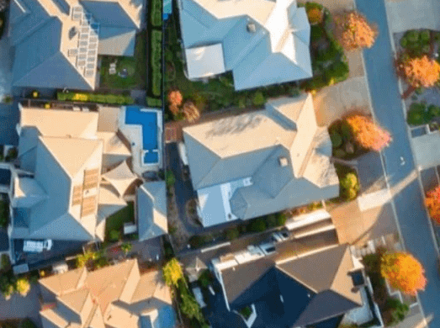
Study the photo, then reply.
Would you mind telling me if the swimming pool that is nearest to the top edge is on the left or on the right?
left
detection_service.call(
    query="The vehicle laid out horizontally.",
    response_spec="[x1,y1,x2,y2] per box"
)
[23,239,53,254]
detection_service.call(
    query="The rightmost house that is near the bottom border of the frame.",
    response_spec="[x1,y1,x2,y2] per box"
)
[208,238,367,328]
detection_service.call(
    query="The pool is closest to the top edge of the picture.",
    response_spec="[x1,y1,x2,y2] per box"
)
[122,103,162,151]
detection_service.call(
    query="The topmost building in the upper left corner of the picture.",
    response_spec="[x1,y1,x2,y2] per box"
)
[7,0,147,88]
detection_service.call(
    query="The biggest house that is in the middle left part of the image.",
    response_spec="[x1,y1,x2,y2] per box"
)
[12,106,133,243]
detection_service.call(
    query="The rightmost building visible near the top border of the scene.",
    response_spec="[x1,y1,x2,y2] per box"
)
[176,0,313,91]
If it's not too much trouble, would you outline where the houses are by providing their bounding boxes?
[208,238,367,328]
[181,91,342,227]
[7,0,147,88]
[176,0,313,91]
[33,256,173,328]
[12,106,133,243]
